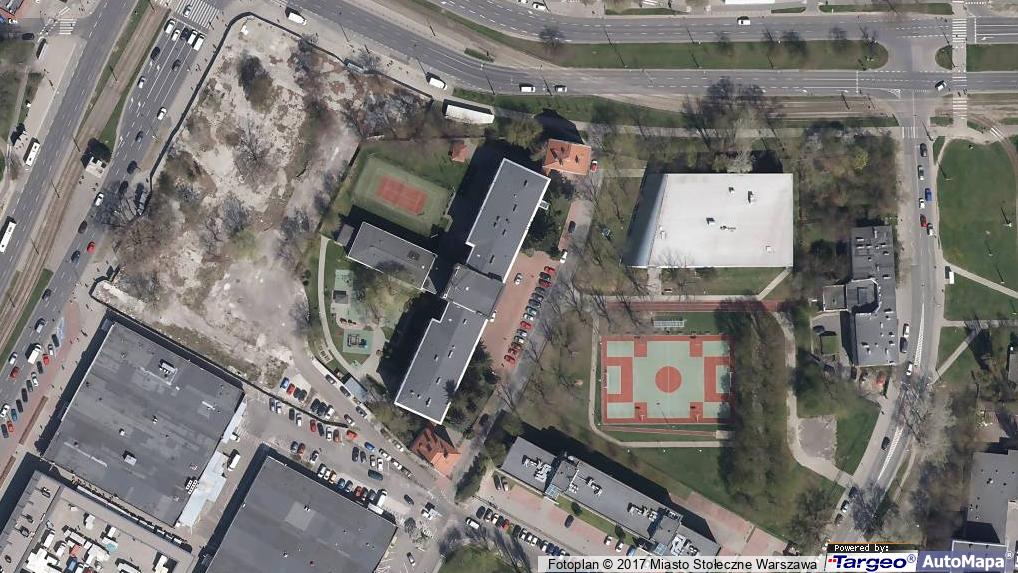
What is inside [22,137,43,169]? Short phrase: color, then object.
white bus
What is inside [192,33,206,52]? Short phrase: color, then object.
white vehicle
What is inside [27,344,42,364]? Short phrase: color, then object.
white vehicle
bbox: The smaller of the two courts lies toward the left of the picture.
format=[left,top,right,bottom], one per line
[354,154,450,234]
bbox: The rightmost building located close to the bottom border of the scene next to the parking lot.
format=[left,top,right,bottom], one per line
[500,436,721,572]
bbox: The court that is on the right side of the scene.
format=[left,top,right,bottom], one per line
[601,336,736,423]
